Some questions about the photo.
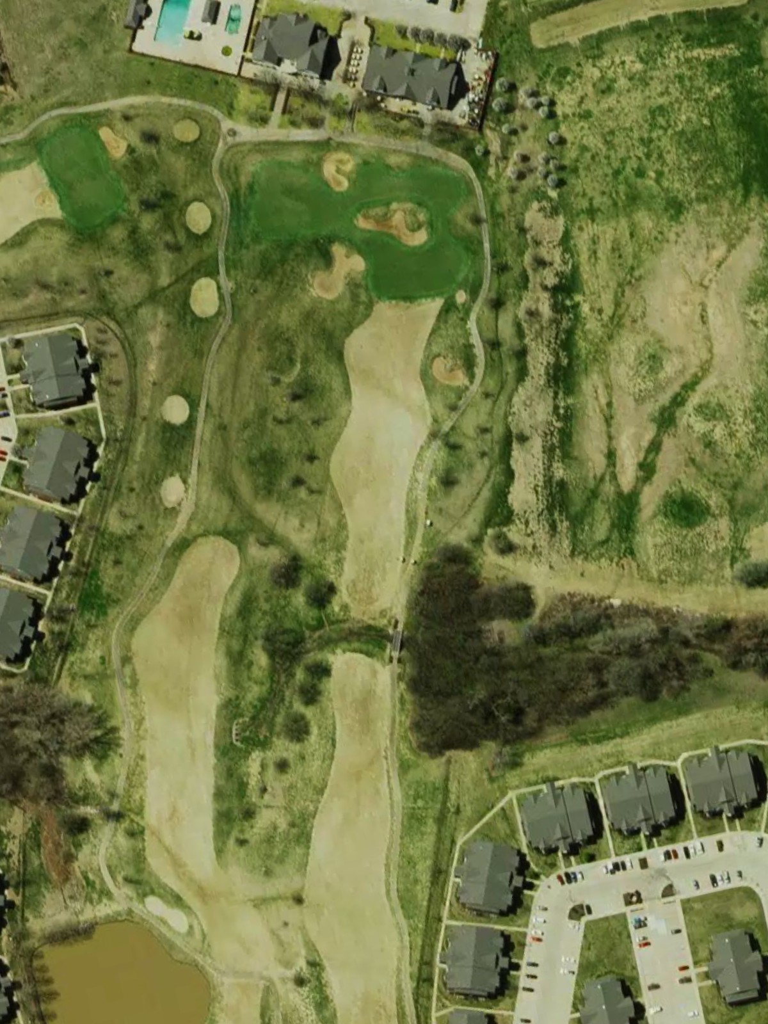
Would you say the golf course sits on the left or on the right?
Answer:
left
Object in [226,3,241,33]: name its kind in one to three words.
swimming pool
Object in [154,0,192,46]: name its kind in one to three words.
swimming pool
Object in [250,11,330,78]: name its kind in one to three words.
building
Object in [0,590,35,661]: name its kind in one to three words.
house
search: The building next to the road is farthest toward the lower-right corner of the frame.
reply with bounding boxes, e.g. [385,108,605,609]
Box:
[700,935,768,1004]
